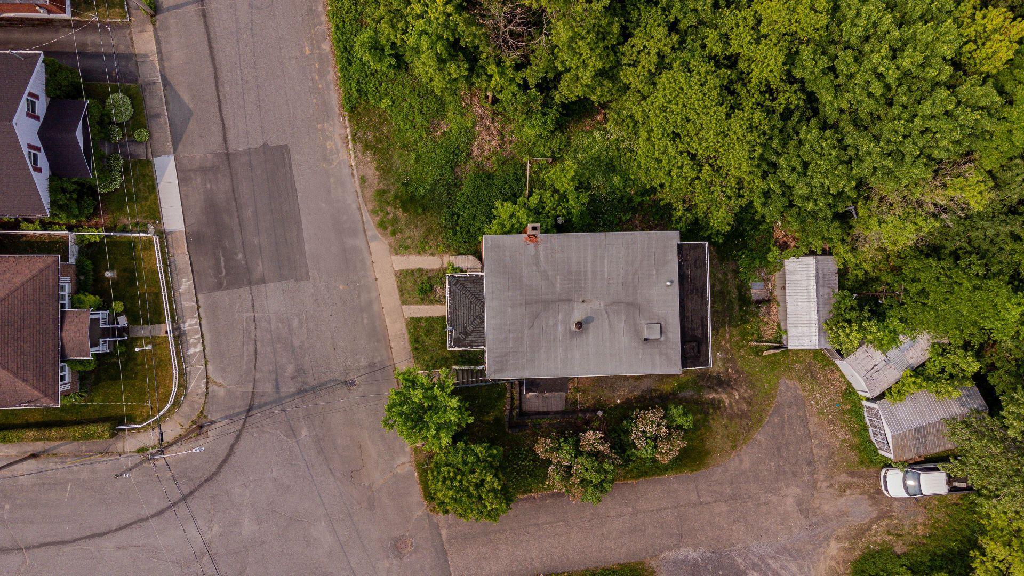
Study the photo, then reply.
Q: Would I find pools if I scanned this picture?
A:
No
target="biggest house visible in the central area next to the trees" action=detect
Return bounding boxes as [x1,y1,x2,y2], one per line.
[444,224,713,394]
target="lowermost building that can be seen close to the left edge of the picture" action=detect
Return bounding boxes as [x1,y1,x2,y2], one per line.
[0,254,139,408]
